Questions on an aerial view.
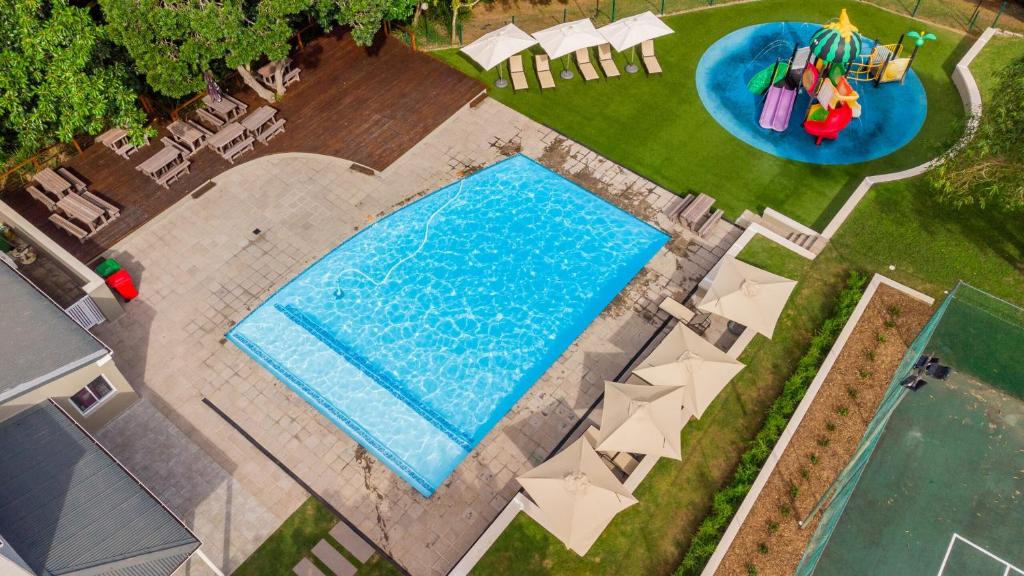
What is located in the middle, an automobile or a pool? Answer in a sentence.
Looking in the middle, you will find a pool.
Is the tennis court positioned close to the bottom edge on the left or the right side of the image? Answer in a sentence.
You can find the tennis court positioned close to the bottom edge on the right side of the picture.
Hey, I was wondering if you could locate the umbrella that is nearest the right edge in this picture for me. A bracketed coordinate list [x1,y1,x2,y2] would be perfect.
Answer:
[698,257,797,345]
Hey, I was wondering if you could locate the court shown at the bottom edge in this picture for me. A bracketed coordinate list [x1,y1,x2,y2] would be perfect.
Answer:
[796,358,1024,576]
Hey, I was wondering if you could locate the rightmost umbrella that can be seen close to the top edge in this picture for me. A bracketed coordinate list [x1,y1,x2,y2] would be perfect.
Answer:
[597,11,674,72]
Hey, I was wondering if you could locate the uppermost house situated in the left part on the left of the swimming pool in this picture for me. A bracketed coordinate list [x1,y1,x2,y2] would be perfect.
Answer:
[0,257,140,440]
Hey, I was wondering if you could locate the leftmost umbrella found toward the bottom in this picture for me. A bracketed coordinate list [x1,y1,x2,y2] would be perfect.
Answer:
[516,437,639,557]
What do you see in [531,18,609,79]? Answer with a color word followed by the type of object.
white umbrella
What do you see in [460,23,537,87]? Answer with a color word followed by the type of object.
white umbrella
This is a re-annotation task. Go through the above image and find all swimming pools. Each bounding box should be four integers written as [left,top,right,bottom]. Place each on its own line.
[226,153,668,496]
